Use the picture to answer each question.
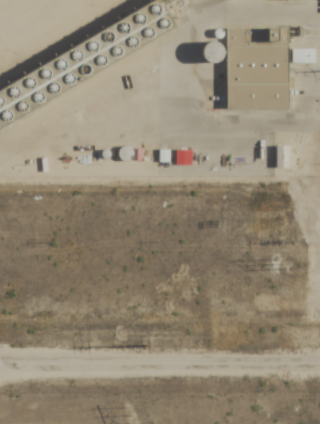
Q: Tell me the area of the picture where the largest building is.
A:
top right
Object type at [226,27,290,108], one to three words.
building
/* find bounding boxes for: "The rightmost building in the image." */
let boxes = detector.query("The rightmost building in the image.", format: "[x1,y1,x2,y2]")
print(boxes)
[292,48,316,62]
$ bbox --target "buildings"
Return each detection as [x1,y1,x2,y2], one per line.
[276,145,290,168]
[292,48,316,62]
[226,27,290,108]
